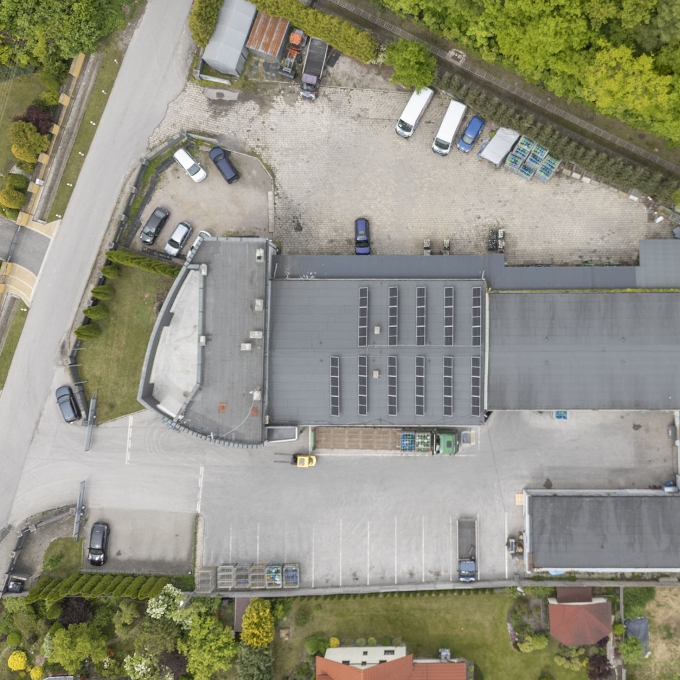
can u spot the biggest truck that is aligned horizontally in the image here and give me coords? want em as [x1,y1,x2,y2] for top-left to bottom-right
[311,429,460,455]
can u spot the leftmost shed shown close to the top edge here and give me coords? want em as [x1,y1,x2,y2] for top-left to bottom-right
[203,0,258,82]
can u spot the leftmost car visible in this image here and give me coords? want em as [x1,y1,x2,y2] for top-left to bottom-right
[54,384,82,425]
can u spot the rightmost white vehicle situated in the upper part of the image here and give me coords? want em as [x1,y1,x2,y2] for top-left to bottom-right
[433,98,467,157]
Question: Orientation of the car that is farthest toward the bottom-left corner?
vertically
